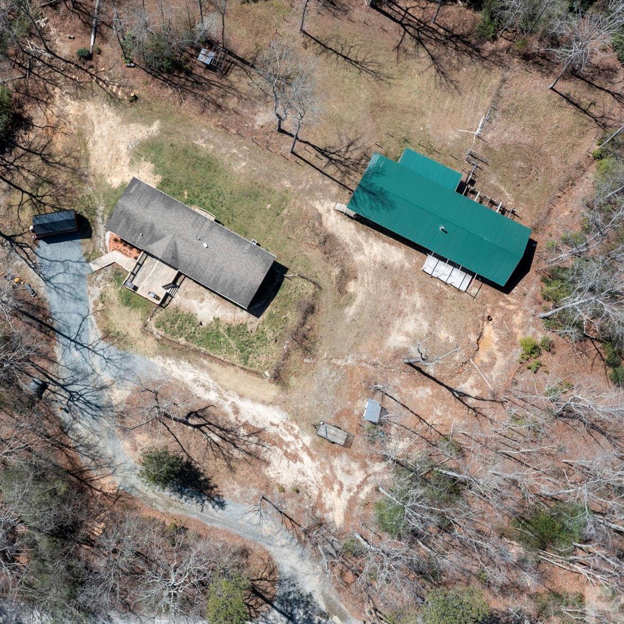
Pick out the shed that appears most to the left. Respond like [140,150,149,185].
[33,209,79,237]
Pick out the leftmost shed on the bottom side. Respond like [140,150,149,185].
[361,399,381,423]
